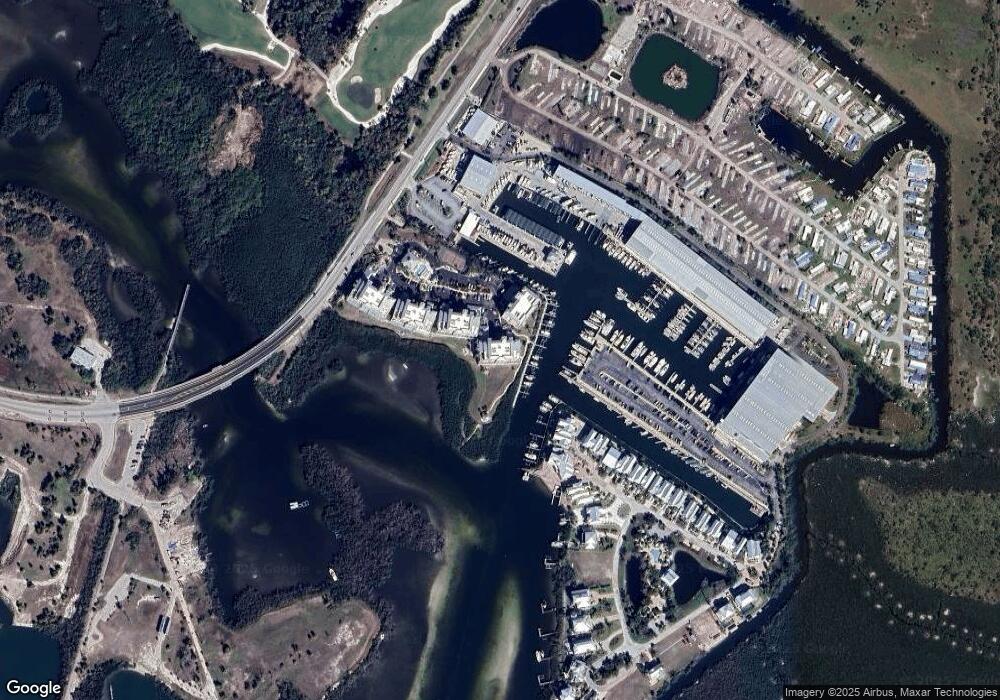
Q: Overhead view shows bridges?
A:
Yes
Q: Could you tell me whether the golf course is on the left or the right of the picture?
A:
left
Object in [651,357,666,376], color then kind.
white boat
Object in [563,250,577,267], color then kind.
white boat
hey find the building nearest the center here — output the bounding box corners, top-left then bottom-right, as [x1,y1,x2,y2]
[479,335,524,366]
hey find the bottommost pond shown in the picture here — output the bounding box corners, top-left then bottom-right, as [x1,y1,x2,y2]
[104,670,174,700]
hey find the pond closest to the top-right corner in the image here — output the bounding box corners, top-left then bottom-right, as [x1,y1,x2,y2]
[632,34,720,122]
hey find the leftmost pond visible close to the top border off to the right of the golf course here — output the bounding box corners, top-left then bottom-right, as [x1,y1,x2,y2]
[517,0,603,61]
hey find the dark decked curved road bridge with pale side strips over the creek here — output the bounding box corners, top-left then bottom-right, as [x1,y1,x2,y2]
[115,318,301,418]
